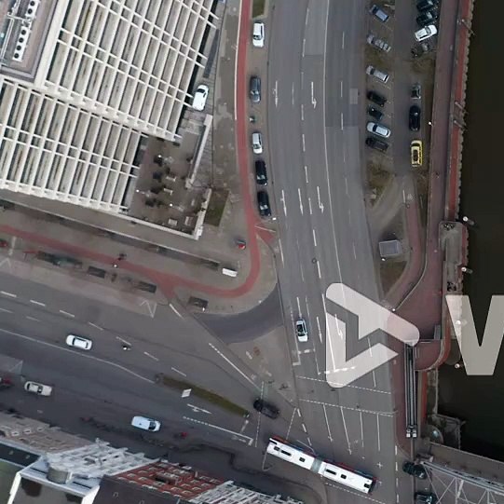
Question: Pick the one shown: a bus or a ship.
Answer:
bus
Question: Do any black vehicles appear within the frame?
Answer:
Yes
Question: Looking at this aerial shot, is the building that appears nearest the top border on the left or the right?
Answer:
left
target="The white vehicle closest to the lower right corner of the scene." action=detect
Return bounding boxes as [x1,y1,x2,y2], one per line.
[264,439,375,491]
